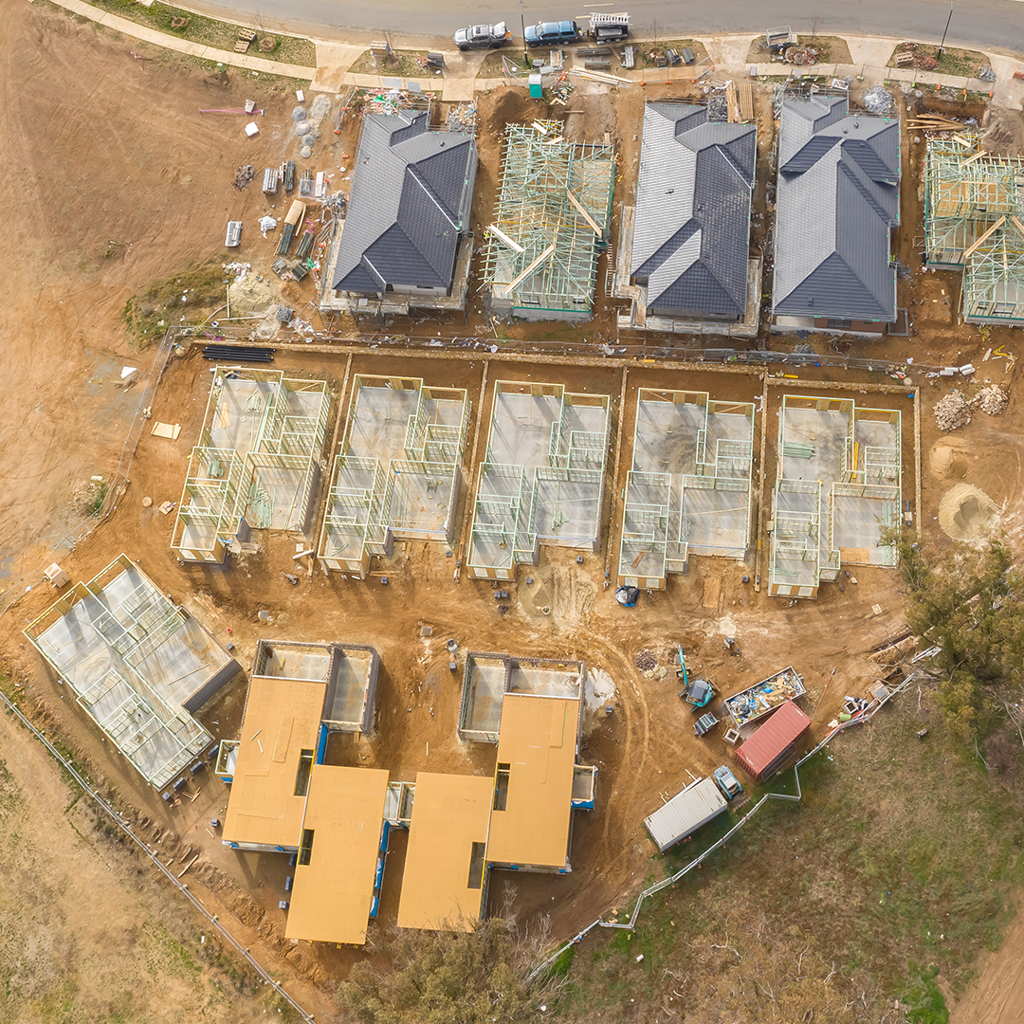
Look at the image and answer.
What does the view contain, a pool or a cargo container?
cargo container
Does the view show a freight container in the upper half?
No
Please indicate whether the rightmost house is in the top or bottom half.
top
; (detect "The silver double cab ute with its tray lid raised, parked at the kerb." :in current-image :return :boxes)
[452,21,512,51]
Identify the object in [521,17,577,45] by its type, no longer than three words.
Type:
truck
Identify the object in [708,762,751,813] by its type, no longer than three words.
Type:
work vehicle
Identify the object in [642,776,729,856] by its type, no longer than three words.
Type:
shipping container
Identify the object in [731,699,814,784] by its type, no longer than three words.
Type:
shipping container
